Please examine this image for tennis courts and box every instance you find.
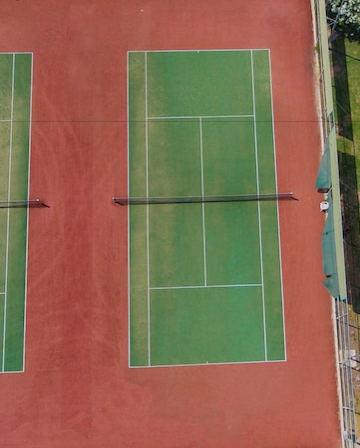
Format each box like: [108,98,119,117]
[0,53,42,372]
[113,49,292,367]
